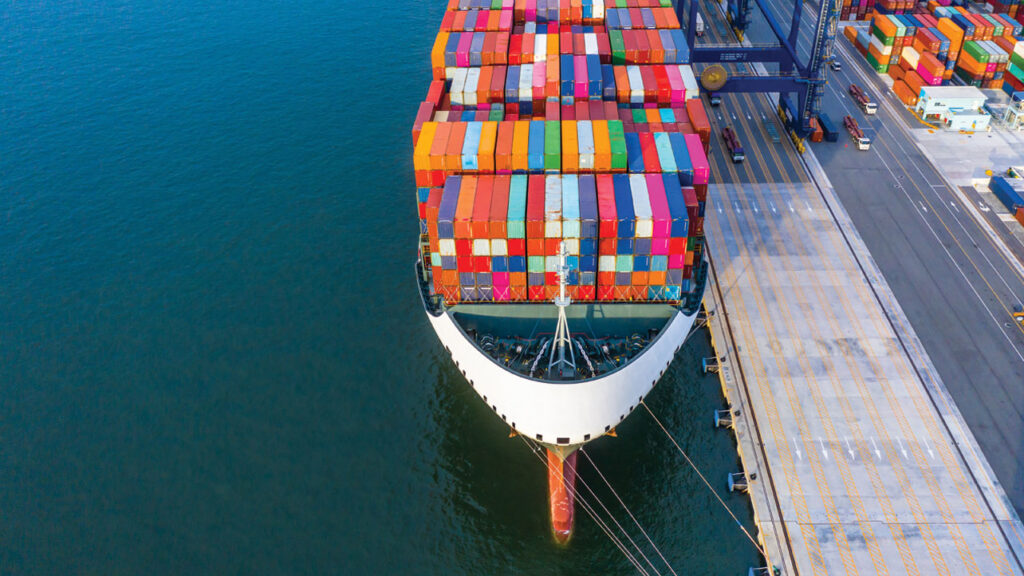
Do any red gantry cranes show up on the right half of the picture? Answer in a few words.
No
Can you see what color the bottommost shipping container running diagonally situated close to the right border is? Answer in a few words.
blue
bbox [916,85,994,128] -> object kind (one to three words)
building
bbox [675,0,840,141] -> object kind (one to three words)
container crane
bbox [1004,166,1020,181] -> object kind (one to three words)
work vehicle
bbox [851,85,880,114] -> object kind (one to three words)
truck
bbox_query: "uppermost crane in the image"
[727,0,758,39]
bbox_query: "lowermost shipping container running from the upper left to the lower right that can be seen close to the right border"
[987,177,1024,216]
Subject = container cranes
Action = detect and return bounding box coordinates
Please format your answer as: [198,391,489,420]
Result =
[727,0,758,39]
[675,0,840,141]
